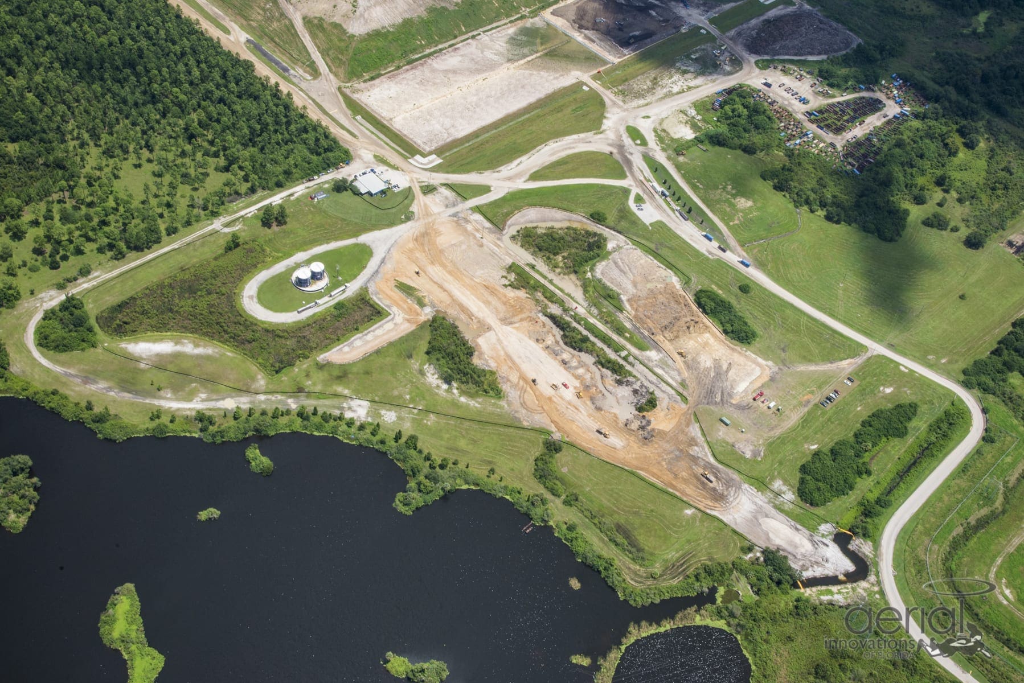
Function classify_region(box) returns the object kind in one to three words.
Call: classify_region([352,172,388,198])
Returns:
building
